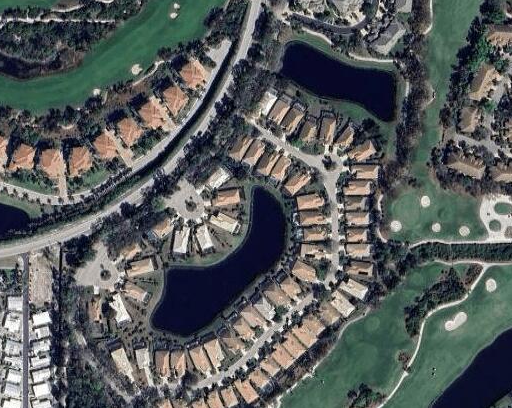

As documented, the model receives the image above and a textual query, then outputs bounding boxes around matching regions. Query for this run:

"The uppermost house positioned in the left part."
[179,60,208,88]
